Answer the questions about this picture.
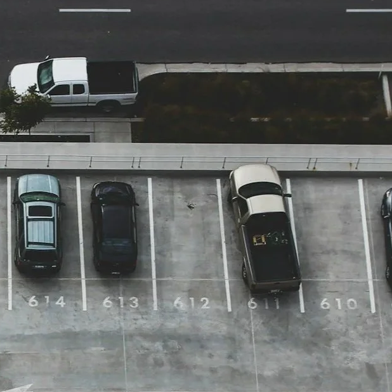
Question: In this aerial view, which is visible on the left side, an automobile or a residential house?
automobile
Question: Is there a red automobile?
No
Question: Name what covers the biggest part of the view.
paved ground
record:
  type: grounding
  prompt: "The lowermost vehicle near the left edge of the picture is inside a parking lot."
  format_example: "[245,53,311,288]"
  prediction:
[12,173,67,280]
